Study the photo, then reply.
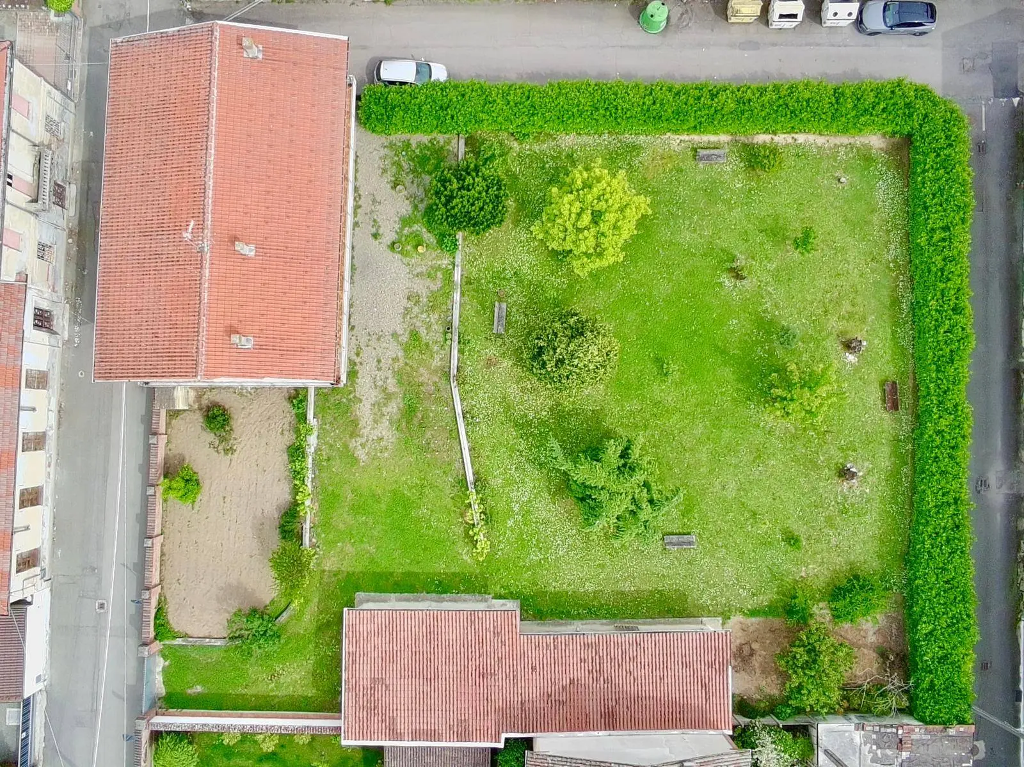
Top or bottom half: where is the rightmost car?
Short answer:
top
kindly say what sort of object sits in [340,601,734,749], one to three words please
house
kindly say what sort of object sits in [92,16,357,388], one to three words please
house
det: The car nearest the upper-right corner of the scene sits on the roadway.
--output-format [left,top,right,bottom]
[853,0,935,37]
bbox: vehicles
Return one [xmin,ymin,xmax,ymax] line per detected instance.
[853,0,935,37]
[372,55,446,91]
